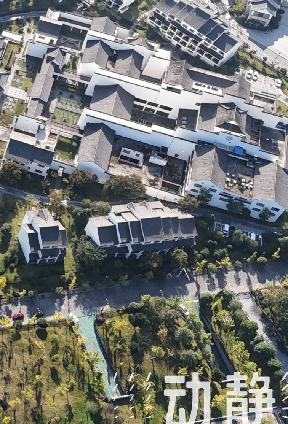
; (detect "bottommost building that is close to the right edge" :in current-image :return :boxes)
[246,161,288,221]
